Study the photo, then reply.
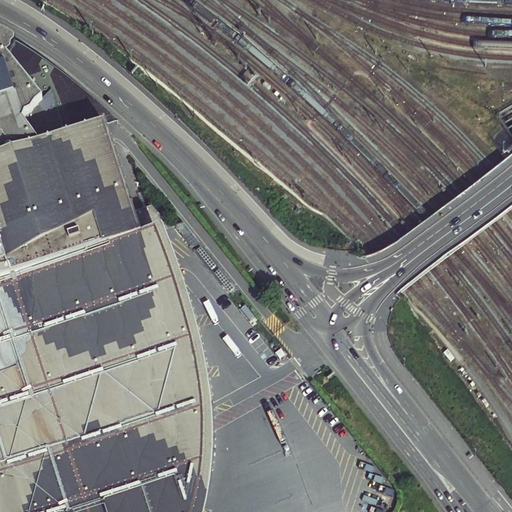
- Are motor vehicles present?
Yes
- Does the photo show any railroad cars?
Yes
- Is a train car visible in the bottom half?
No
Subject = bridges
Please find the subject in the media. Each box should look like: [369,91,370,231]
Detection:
[365,155,512,294]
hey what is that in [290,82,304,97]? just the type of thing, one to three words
rail car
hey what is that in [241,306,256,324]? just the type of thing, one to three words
vehicle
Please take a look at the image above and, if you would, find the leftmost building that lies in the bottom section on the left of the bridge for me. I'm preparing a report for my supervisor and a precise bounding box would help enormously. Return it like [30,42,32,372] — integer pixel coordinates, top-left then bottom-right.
[0,205,215,512]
